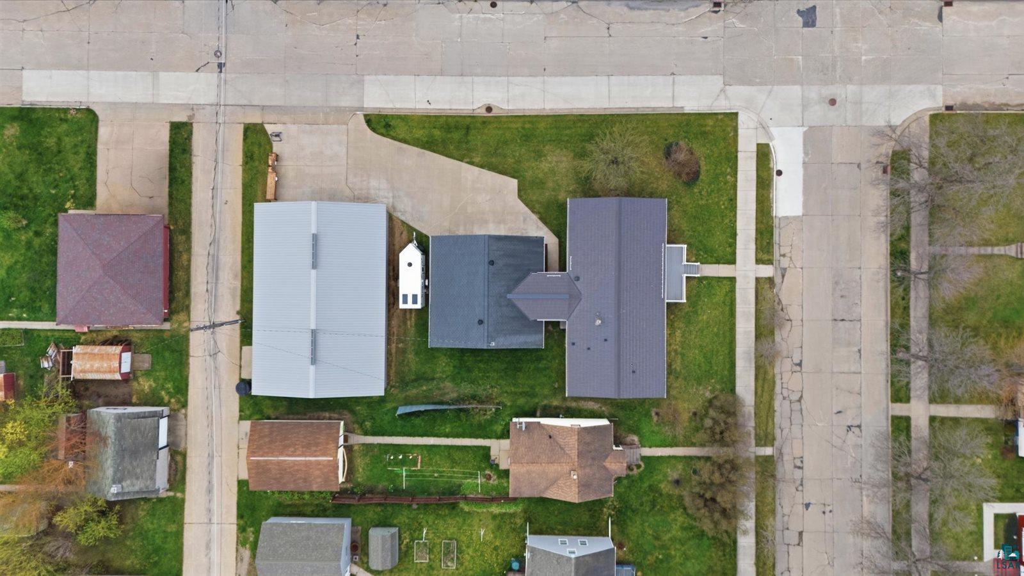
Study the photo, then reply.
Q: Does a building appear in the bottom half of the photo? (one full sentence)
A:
Yes, I can see a building in the bottom half of the photo.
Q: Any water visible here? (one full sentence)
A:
No, there is no water in the image.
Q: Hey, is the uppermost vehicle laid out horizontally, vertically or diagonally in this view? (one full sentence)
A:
What the image shows is the uppermost vehicle lying vertically.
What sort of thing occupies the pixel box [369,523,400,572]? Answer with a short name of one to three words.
shed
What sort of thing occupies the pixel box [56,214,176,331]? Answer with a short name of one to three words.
building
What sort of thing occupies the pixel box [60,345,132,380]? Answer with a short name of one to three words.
shed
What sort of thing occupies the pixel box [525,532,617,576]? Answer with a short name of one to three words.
house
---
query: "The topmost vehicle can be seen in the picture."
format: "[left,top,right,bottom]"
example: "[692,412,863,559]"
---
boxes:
[397,231,428,308]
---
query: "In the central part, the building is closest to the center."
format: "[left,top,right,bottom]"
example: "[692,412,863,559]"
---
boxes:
[428,235,545,350]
